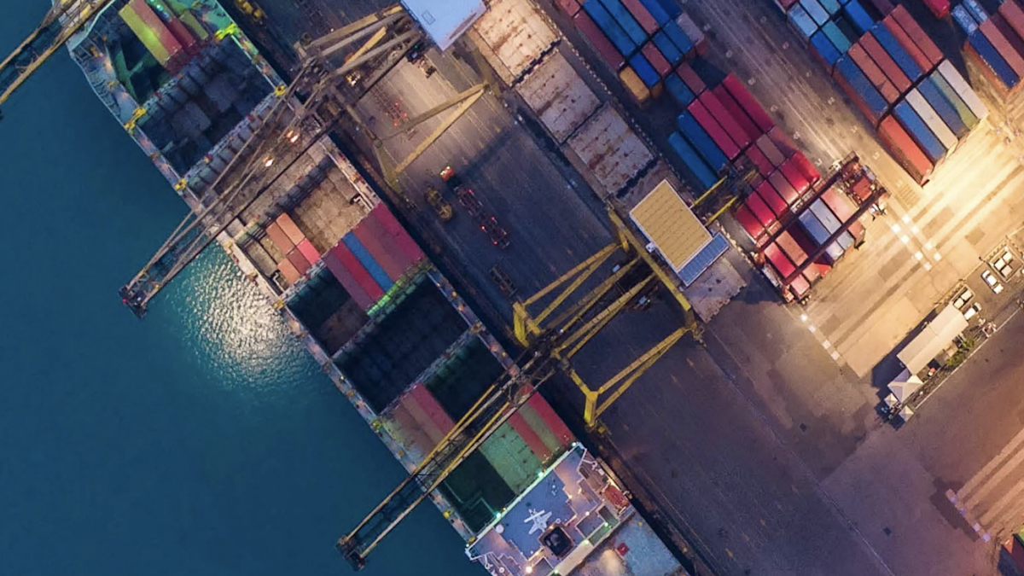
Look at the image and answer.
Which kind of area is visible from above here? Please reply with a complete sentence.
What you see here is a port.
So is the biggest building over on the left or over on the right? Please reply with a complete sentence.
You can find the biggest building on the right side of the picture.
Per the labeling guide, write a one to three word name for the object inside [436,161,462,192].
truck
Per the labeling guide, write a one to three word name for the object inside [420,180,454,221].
work vehicle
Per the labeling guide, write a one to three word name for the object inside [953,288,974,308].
car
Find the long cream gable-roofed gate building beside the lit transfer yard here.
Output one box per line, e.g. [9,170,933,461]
[896,302,971,377]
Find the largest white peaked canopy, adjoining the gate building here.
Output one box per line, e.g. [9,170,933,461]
[884,367,922,406]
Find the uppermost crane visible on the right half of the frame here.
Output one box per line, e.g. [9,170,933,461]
[751,147,898,306]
